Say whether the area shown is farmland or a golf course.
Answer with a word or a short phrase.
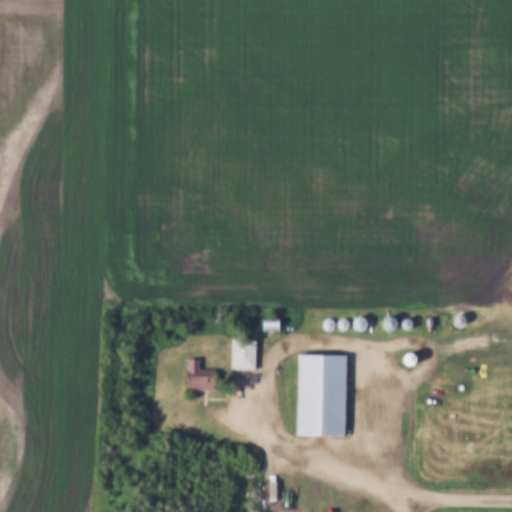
farmland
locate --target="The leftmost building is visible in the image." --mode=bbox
[188,359,216,392]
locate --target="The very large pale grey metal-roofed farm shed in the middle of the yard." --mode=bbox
[296,355,348,438]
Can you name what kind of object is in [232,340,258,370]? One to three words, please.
building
